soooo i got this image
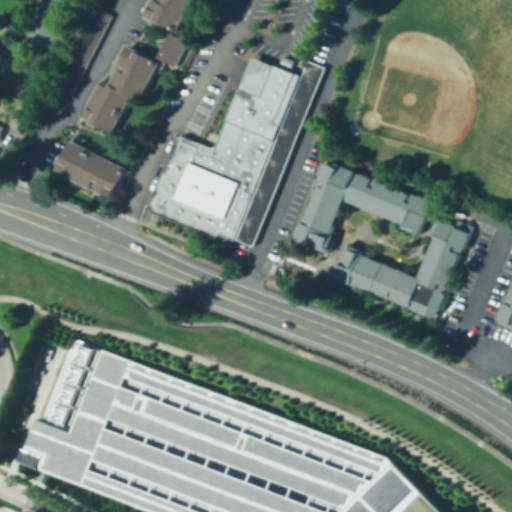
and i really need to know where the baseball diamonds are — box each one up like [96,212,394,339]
[351,0,512,212]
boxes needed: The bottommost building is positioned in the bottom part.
[15,341,440,512]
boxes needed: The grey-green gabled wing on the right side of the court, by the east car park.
[406,221,471,318]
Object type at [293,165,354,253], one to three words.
building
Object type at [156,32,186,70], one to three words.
house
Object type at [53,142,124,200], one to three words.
house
